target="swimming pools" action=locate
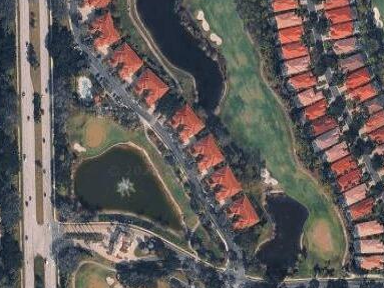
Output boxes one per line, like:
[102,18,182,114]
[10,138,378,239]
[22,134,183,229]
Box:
[77,76,92,99]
